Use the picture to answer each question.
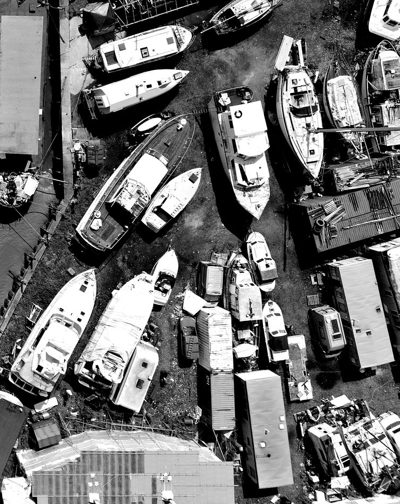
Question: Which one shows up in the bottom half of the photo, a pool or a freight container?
freight container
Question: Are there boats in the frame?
Yes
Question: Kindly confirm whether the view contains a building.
Yes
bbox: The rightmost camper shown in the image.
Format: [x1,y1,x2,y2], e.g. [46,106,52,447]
[301,302,346,358]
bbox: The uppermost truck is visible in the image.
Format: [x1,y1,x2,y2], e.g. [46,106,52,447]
[193,258,223,306]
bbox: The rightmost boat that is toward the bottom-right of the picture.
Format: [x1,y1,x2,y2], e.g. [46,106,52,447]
[374,409,400,469]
